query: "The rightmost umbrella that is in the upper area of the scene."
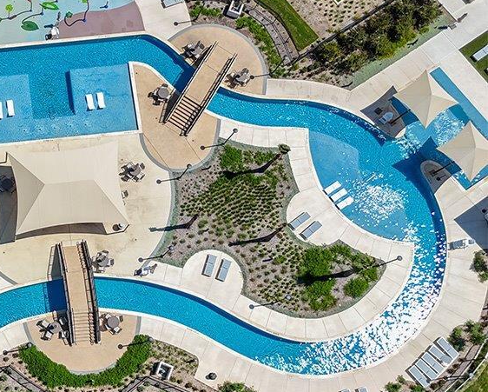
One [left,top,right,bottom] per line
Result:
[429,121,488,178]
